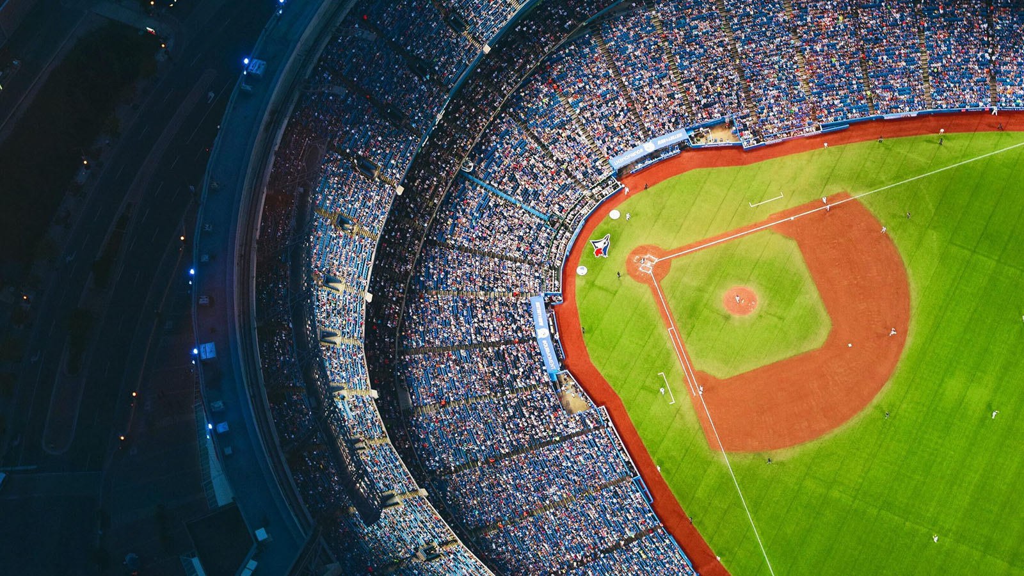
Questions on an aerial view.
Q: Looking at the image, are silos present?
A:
No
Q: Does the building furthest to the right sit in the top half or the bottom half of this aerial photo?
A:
bottom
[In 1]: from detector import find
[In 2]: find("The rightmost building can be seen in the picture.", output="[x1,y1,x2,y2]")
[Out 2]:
[184,502,255,576]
